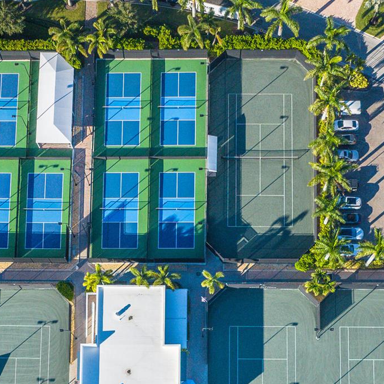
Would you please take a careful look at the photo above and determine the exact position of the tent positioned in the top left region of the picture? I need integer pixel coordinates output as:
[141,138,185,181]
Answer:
[37,53,76,149]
